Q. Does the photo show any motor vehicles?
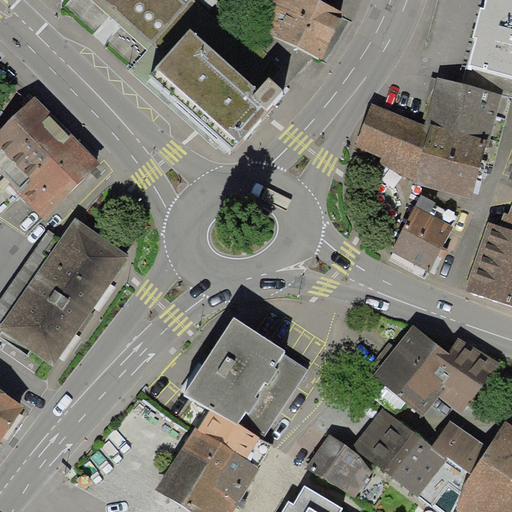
Yes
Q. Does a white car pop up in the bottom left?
Yes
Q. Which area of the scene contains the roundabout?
center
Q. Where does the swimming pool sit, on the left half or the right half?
right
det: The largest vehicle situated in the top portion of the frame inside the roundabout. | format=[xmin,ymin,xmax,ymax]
[249,182,293,210]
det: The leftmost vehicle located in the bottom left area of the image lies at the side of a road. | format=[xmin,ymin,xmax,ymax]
[23,390,46,408]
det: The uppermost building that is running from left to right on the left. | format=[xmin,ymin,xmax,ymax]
[91,0,196,45]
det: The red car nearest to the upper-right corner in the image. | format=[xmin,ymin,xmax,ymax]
[385,84,400,106]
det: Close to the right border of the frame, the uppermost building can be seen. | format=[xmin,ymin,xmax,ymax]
[461,0,512,84]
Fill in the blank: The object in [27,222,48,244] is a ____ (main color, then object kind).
white car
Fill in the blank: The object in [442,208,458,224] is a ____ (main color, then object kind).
white umbrella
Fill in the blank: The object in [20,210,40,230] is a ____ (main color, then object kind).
white car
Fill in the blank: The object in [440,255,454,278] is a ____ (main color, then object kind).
gray car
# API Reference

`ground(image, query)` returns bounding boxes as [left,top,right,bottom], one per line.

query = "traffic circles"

[164,158,322,298]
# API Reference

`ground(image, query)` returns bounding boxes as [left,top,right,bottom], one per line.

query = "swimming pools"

[422,460,468,512]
